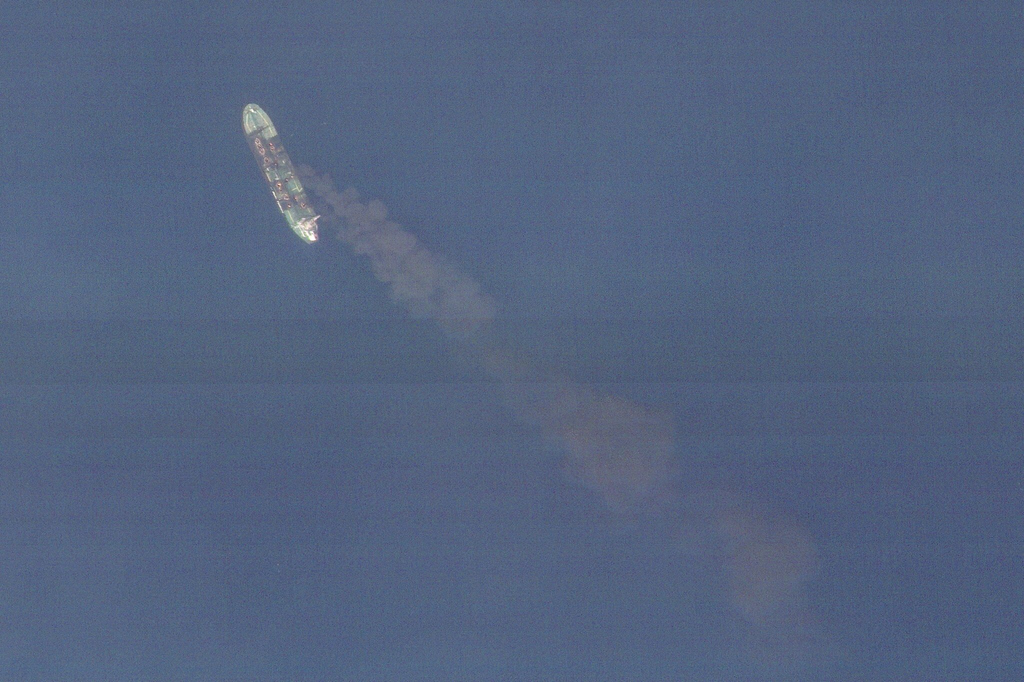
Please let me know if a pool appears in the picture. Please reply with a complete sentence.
No, there's no pool here.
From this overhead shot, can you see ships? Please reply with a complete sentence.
Yes, the frame does contain a ship.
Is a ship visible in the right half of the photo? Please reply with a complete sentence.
No, there is no ship in the right half of the photo.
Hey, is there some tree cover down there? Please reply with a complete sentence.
No, the picture contains no tree cover.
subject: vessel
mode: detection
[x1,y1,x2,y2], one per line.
[245,103,320,244]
